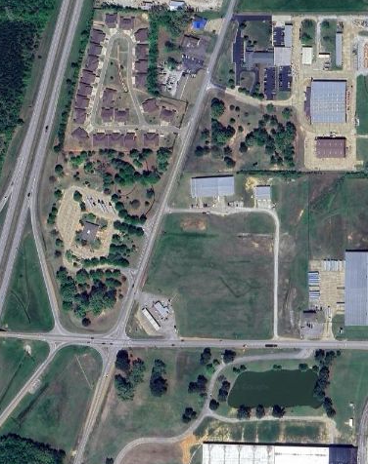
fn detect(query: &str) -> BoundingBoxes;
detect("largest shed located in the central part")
[193,175,235,197]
